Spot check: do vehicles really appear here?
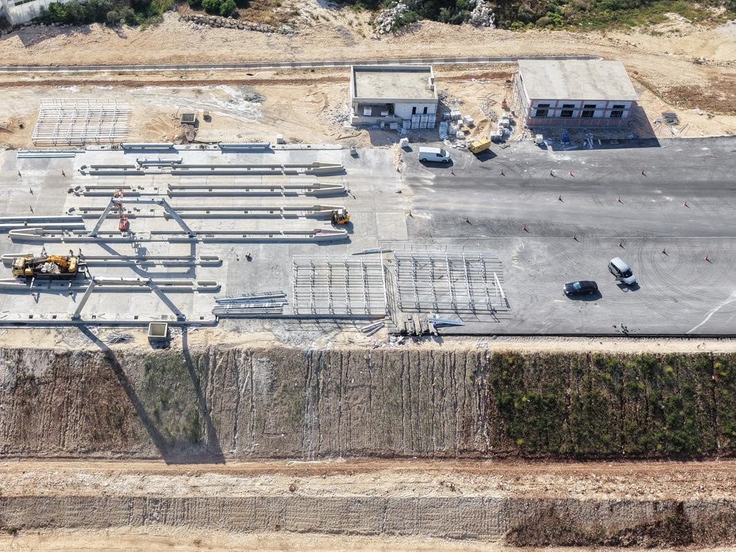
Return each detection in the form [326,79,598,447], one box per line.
[326,206,351,227]
[5,248,93,297]
[564,282,602,299]
[418,146,452,165]
[608,256,640,286]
